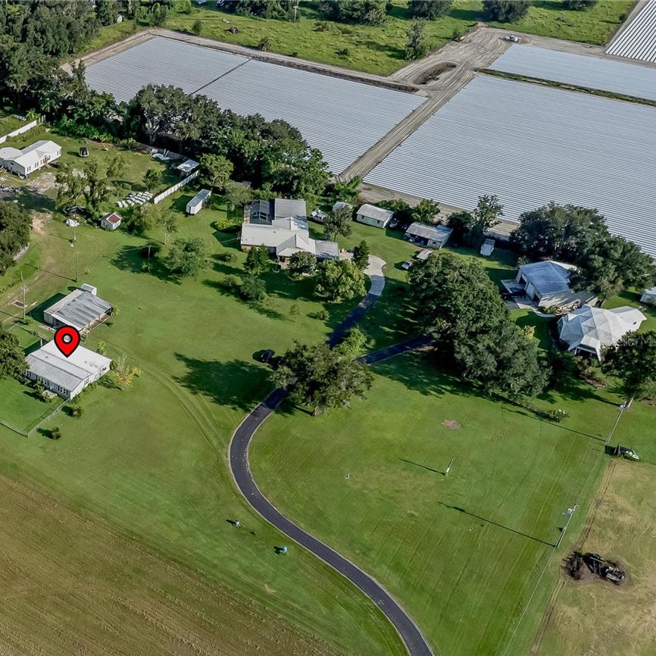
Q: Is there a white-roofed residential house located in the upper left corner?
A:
Yes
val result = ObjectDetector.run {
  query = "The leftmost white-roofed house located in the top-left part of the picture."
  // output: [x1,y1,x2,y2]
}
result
[0,137,70,178]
